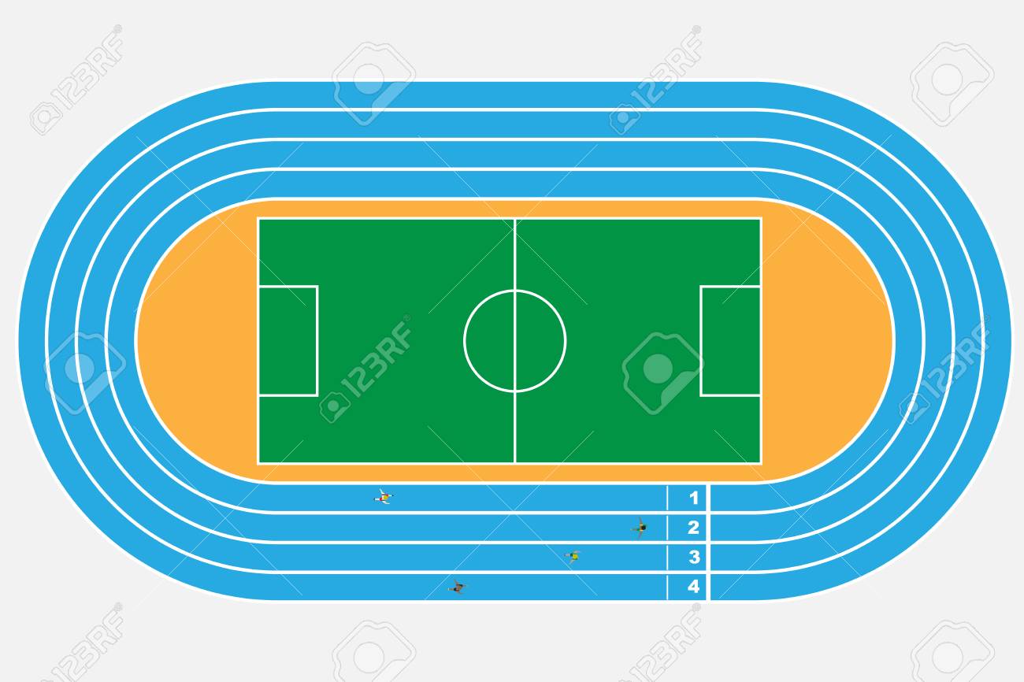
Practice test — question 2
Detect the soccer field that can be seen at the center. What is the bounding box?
[257,217,762,465]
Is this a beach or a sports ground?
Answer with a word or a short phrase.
sports ground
